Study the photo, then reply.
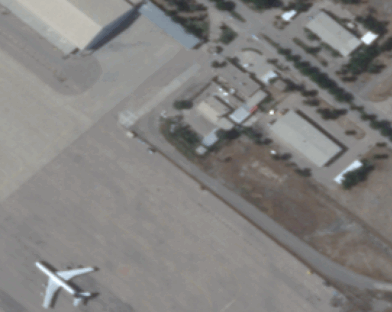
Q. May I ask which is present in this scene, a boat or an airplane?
airplane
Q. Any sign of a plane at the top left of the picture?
No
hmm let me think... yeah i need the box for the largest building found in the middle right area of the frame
[271,110,343,166]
